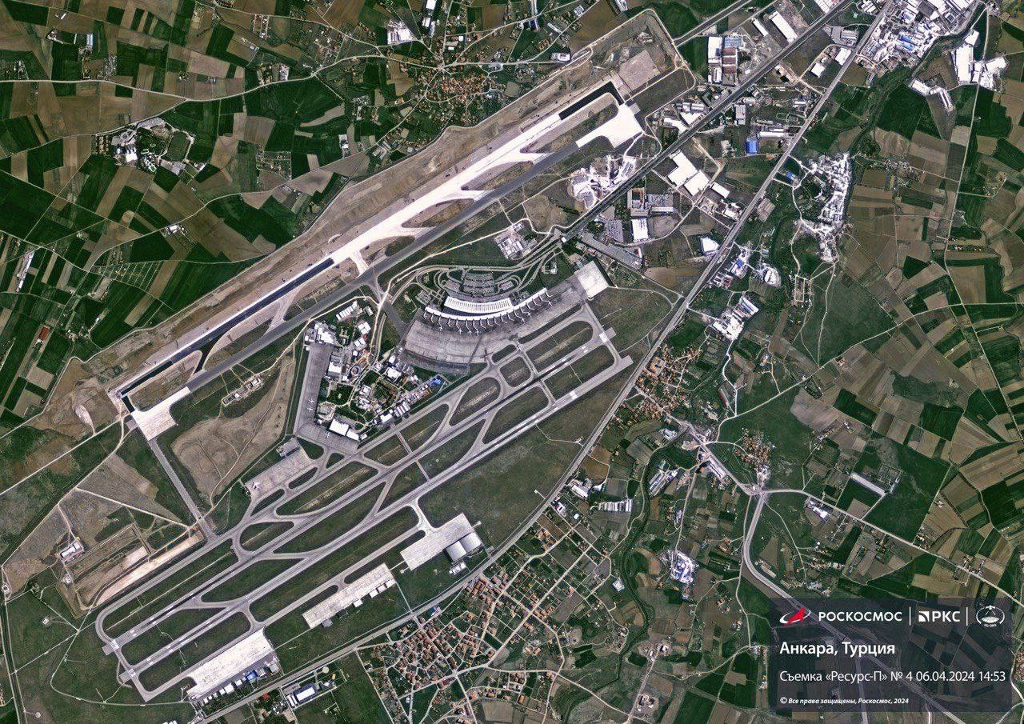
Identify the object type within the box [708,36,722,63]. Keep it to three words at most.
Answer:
building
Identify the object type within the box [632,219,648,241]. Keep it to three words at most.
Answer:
building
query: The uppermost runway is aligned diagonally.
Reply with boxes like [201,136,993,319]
[118,81,623,412]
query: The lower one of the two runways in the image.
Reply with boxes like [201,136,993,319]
[129,355,630,677]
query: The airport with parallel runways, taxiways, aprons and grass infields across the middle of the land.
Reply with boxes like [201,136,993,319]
[4,10,694,723]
